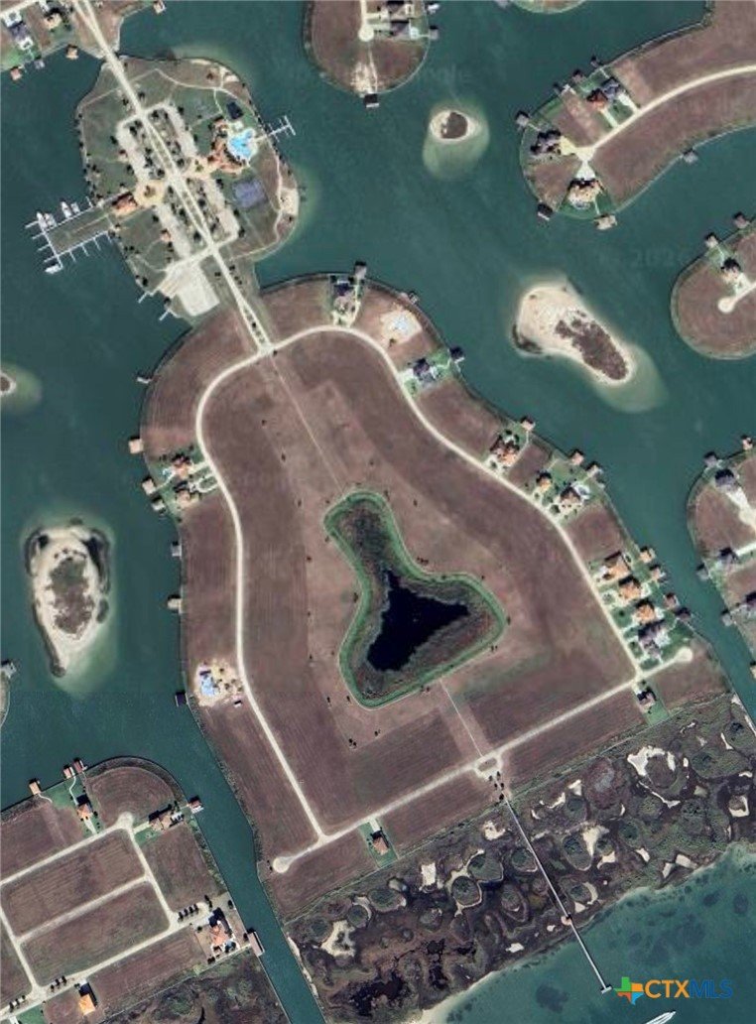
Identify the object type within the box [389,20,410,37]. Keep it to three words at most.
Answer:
house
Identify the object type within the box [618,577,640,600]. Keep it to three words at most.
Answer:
house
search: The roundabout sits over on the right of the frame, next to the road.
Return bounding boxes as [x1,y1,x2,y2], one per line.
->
[468,751,504,782]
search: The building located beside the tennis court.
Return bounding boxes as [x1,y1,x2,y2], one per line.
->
[206,121,247,173]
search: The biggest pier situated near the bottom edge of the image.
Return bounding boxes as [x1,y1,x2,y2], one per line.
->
[502,799,612,993]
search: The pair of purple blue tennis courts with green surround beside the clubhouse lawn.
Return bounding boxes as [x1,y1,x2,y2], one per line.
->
[232,178,267,209]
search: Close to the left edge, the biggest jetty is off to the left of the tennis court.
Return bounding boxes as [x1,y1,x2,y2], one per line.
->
[26,196,112,268]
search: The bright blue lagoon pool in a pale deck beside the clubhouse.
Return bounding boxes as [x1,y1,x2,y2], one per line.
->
[227,126,258,163]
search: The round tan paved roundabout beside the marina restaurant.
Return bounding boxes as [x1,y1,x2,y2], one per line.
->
[135,177,165,206]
